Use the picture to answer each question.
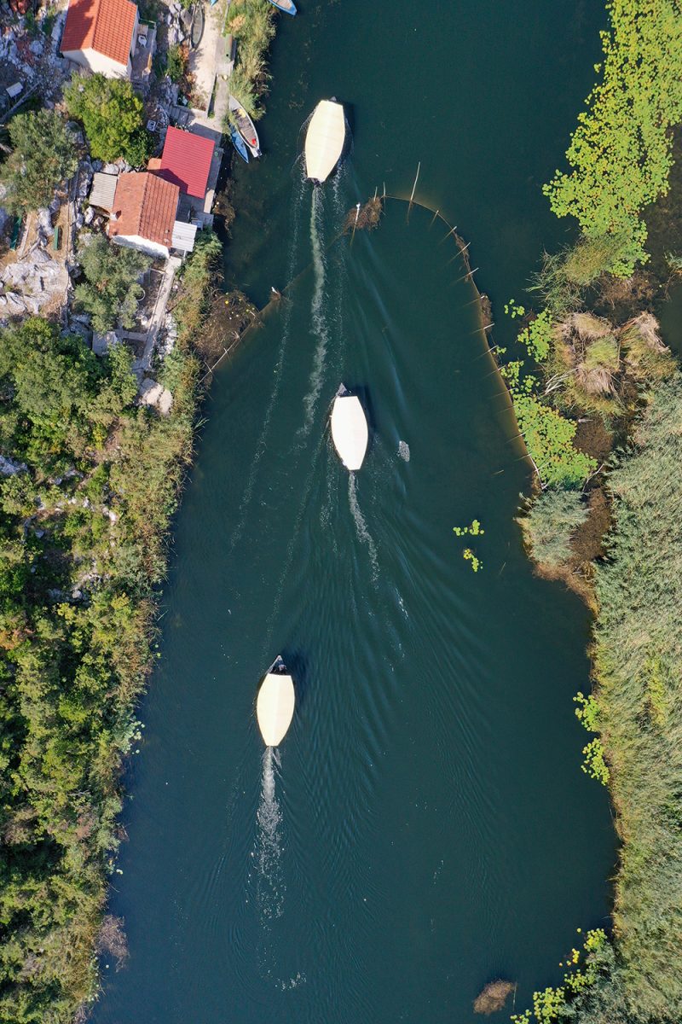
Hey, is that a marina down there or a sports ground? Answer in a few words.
marina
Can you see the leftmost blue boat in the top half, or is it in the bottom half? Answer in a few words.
top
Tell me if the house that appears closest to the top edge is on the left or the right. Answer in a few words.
left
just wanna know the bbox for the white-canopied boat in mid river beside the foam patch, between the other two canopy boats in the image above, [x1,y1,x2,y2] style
[328,384,367,475]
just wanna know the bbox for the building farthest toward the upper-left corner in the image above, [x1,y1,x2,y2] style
[60,0,143,81]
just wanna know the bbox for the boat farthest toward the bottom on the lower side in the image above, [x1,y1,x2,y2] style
[257,656,294,746]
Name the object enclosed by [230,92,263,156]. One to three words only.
boat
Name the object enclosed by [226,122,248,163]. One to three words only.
boat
